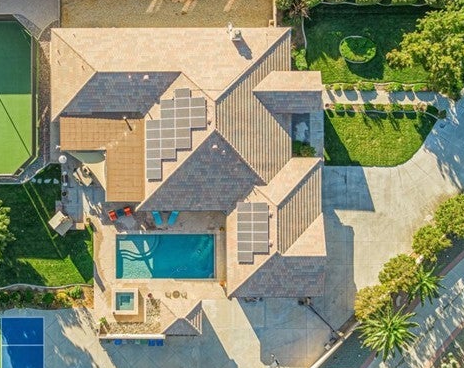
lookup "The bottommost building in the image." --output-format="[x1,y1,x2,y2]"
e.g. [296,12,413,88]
[160,301,201,335]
